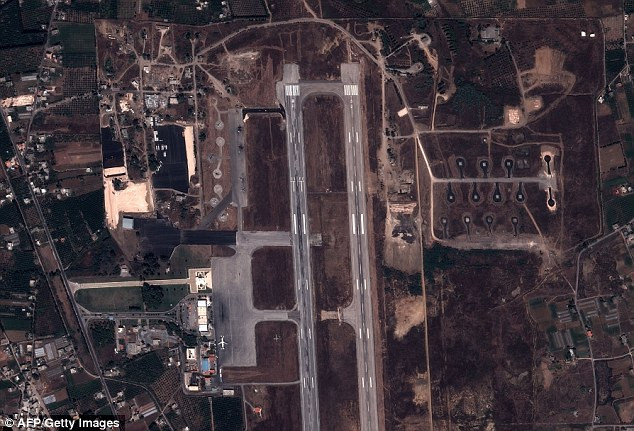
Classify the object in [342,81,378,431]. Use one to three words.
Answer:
runway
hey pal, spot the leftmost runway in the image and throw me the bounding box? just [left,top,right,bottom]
[284,81,319,431]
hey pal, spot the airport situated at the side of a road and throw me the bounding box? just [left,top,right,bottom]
[102,63,378,431]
